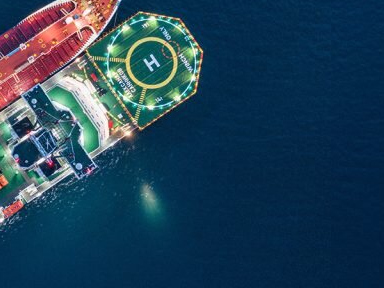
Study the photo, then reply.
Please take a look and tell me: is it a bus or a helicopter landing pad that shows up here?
helicopter landing pad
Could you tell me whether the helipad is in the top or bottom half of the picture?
top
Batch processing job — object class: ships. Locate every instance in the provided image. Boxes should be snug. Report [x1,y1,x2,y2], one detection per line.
[0,55,137,223]
[0,0,122,109]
